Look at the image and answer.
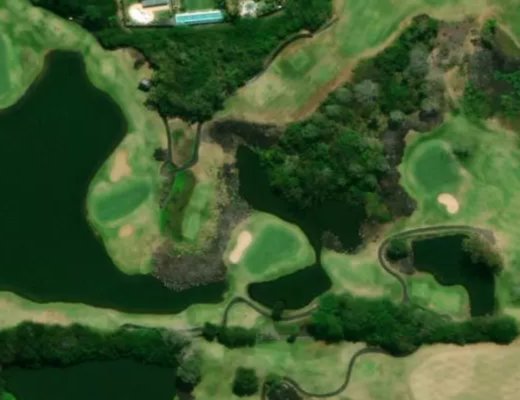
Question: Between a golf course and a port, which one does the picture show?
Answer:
golf course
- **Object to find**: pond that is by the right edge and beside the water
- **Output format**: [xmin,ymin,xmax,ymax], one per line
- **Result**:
[411,234,496,323]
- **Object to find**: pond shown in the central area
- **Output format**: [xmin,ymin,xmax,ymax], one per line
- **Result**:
[236,144,370,310]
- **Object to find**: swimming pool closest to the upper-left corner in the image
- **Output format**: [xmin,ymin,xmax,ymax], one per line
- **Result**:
[176,9,223,25]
